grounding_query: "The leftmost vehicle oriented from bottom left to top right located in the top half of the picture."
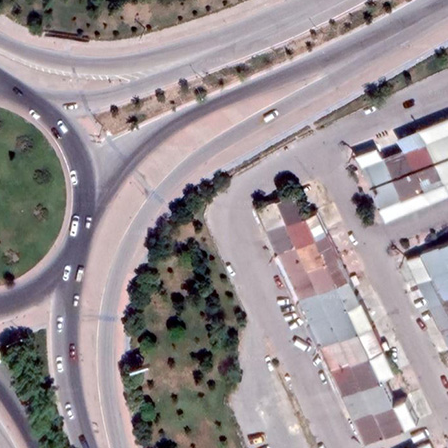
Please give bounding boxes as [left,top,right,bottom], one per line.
[264,109,281,122]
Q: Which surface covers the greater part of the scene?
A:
paved ground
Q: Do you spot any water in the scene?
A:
No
